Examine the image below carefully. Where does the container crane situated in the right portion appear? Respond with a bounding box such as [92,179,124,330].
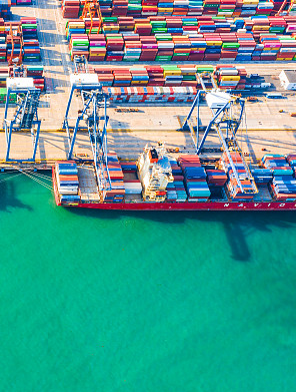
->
[178,49,264,185]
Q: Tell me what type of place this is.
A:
port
